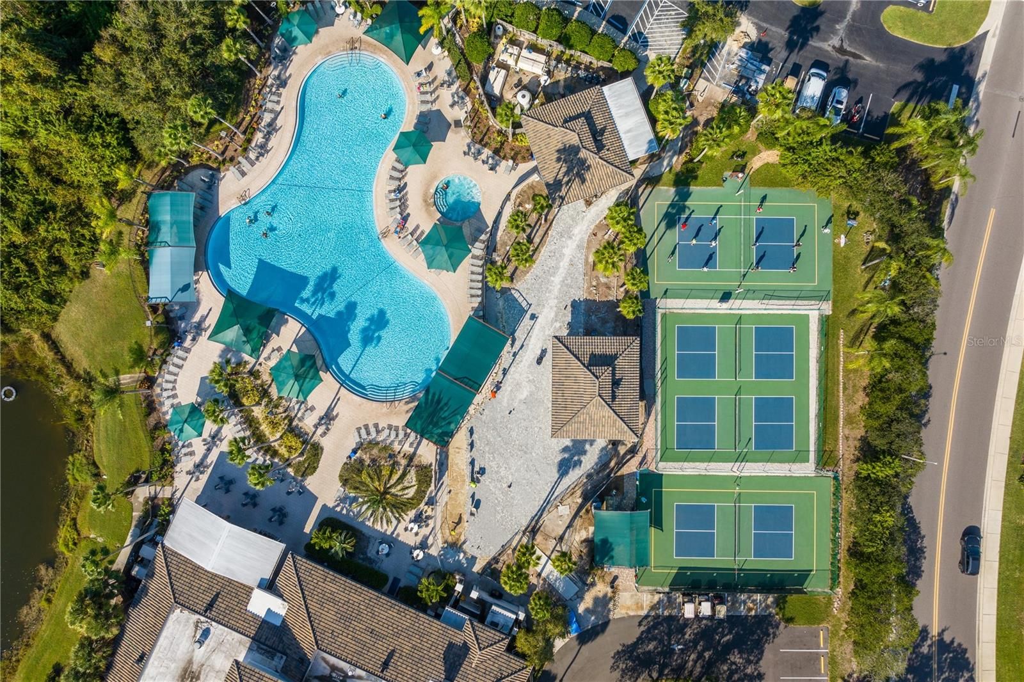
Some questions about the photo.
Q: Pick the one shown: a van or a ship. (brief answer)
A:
van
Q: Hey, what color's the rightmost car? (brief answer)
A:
black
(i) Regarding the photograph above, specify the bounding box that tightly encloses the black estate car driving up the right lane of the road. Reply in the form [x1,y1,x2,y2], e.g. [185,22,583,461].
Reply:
[957,529,983,572]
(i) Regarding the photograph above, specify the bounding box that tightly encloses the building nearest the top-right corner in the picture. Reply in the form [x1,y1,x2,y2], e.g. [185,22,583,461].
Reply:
[520,76,659,210]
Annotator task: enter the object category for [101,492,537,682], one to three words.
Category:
building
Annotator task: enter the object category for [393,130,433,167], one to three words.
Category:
umbrella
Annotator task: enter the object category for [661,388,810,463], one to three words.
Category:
sports court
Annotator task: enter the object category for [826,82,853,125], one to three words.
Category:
car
